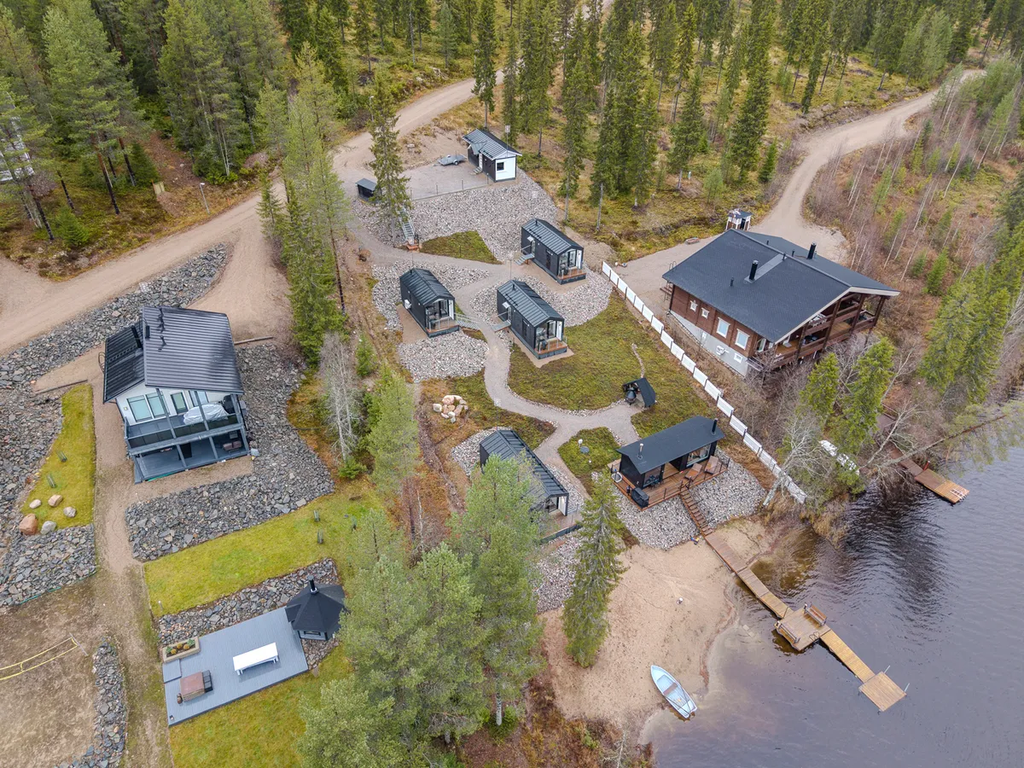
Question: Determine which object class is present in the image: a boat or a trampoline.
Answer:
boat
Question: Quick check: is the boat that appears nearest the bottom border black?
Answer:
No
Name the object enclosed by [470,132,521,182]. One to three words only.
building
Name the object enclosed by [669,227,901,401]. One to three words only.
house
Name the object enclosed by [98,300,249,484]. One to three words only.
house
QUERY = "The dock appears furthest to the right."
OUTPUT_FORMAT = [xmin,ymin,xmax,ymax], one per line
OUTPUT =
[895,453,970,508]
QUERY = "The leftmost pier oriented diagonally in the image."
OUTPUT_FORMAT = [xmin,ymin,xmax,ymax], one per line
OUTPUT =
[705,531,912,715]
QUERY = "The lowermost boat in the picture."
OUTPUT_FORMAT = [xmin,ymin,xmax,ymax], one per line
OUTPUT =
[652,663,701,717]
